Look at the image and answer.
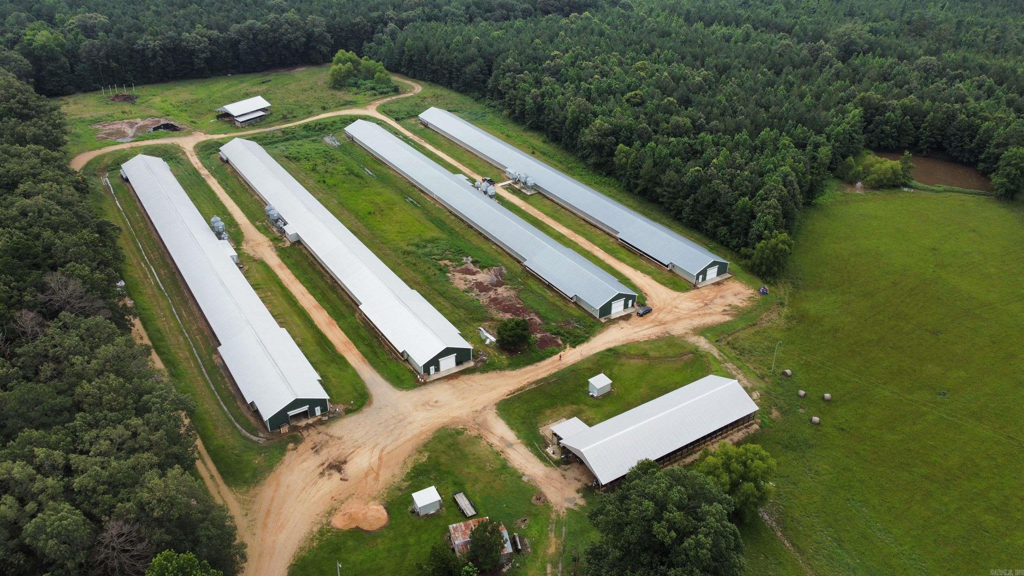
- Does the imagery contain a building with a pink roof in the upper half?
No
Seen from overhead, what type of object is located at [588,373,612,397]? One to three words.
shed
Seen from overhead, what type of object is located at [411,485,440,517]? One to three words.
shed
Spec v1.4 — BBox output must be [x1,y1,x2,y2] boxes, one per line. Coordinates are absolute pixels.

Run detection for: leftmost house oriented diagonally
[121,154,330,430]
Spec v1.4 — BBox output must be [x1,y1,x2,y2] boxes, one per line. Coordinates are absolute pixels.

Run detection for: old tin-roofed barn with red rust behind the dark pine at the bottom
[450,517,507,568]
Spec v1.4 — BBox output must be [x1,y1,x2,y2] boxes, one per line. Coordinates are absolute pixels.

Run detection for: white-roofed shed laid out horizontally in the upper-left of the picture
[220,99,275,125]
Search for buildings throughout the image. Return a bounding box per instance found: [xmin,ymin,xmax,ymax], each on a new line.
[411,485,440,517]
[220,99,275,125]
[220,138,475,381]
[419,107,732,288]
[550,375,759,495]
[450,517,507,568]
[121,154,330,430]
[344,119,638,323]
[588,373,612,397]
